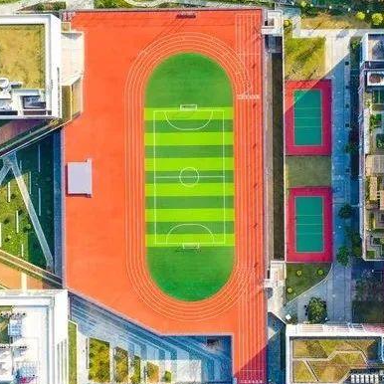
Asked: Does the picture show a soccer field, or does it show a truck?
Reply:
soccer field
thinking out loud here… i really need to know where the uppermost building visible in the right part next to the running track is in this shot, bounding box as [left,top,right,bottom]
[264,9,283,29]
